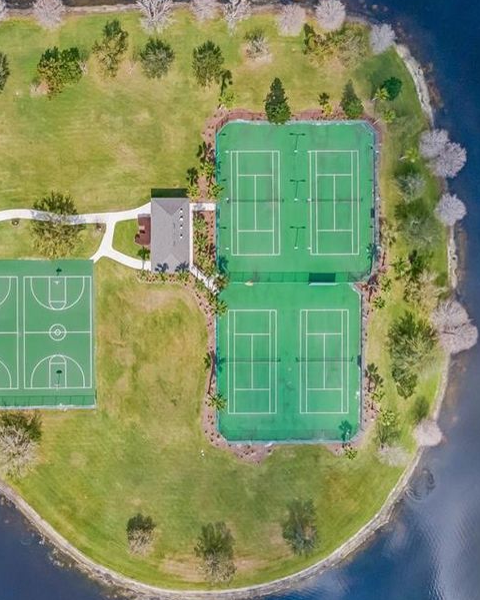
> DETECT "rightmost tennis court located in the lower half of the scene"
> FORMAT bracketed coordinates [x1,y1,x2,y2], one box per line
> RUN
[289,284,361,442]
